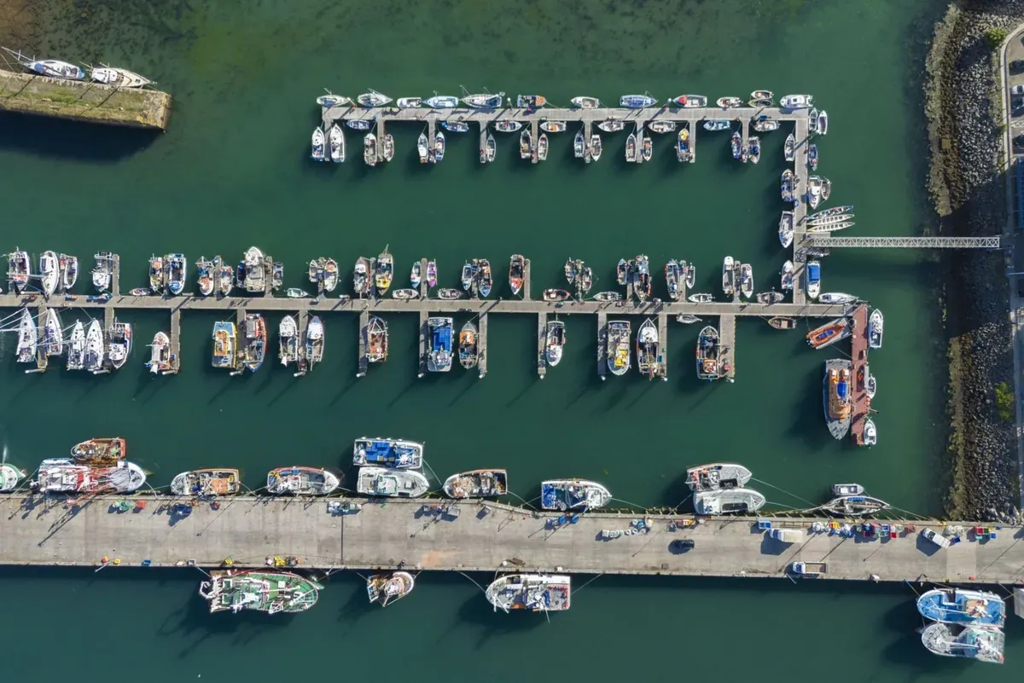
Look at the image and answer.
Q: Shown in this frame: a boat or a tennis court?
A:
boat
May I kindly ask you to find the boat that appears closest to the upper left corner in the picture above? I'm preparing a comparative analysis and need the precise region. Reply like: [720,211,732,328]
[0,37,90,79]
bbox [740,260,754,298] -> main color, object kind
white boat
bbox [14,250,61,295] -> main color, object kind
white boat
